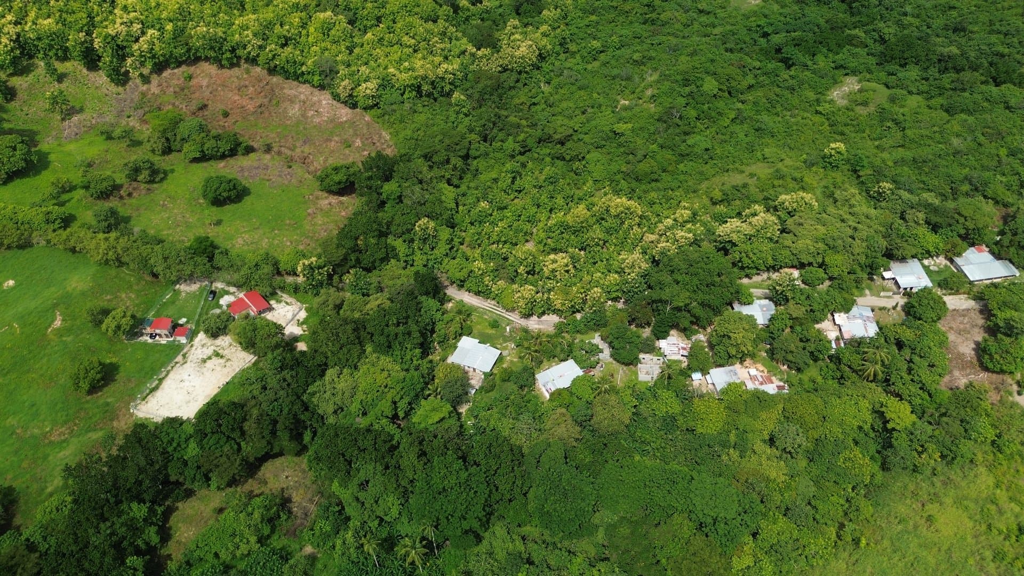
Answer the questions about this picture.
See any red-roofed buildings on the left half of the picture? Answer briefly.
Yes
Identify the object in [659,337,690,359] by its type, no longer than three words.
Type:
house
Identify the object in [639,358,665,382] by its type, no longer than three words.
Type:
house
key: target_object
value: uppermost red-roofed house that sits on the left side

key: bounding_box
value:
[229,291,272,319]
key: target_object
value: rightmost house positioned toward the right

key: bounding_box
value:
[953,245,1019,287]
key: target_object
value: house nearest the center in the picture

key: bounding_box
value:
[451,336,501,377]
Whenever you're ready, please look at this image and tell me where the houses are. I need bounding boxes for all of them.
[953,245,1019,287]
[141,317,176,341]
[709,366,742,394]
[833,306,879,342]
[639,358,665,382]
[743,375,788,396]
[451,336,501,377]
[536,359,583,399]
[229,291,272,319]
[659,337,690,359]
[735,299,775,326]
[883,259,932,293]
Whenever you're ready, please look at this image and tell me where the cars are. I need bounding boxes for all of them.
[208,291,217,301]
[145,333,158,342]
